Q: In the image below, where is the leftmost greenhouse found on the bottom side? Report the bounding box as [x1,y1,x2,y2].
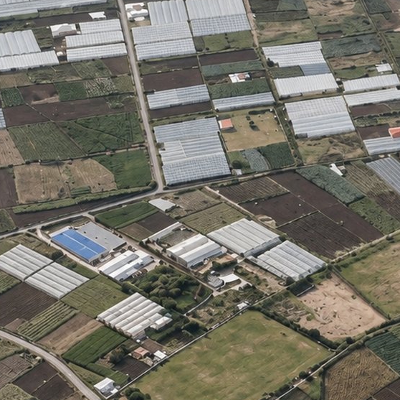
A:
[0,244,53,282]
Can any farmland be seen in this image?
Yes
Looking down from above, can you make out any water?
No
